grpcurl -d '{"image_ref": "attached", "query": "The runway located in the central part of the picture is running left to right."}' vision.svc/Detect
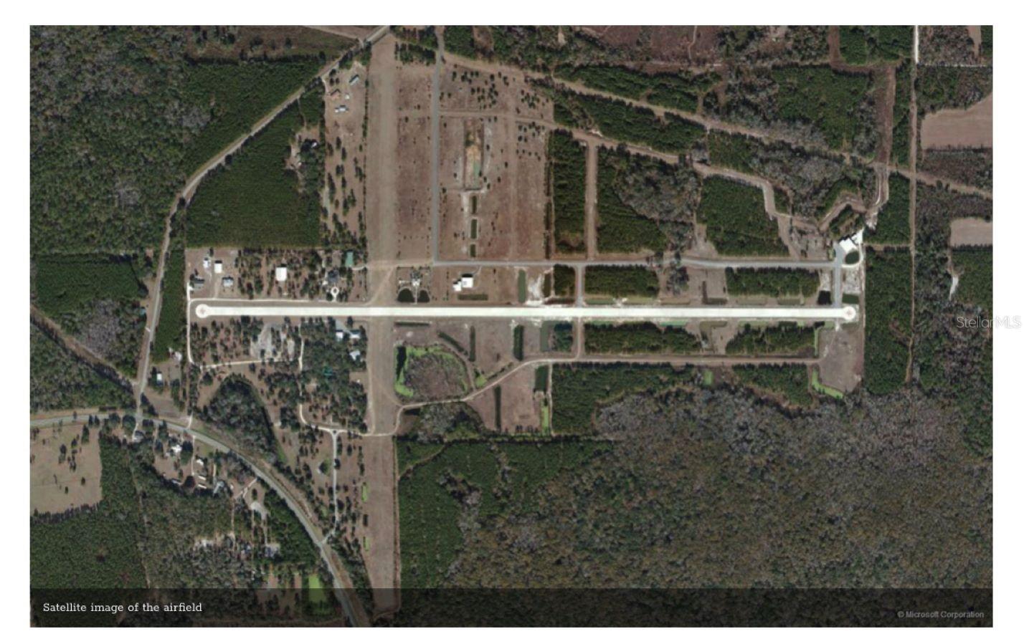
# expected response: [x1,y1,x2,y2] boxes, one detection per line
[195,304,856,320]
